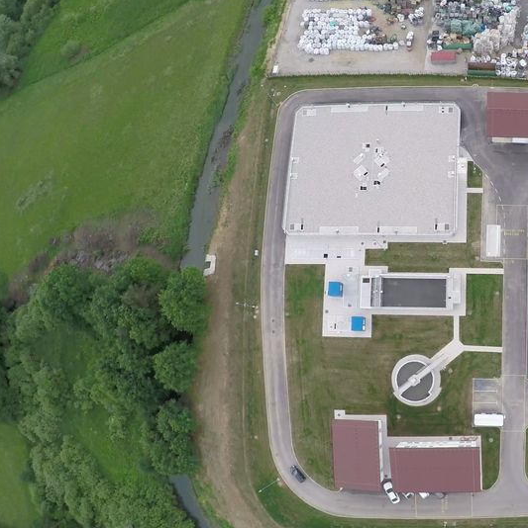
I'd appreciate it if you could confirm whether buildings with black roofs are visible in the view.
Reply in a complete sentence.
No, the photo shows no building with a black roof.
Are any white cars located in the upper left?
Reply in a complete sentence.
No, in the upper left there is no white car.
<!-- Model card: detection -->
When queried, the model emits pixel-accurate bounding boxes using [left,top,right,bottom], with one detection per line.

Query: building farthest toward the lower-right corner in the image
[390,443,481,493]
